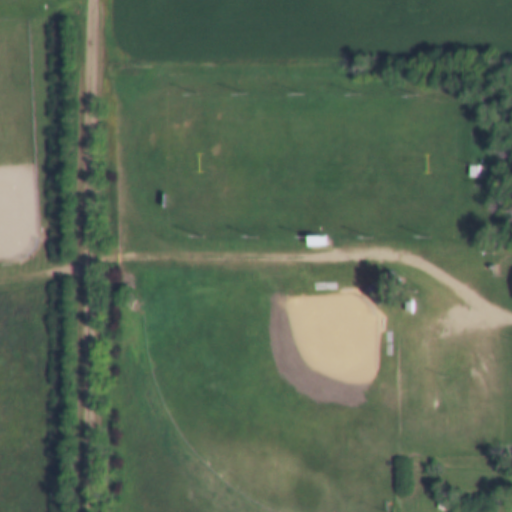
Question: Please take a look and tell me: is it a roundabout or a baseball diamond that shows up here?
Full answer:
It is a baseball diamond that can be seen here.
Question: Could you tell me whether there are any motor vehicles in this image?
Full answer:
No, no motor vehicle is visible in the scene.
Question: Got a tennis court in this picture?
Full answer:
No, there appears to be no tennis court in this shot.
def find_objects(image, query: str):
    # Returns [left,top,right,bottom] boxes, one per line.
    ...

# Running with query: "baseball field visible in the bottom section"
[268,286,388,407]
